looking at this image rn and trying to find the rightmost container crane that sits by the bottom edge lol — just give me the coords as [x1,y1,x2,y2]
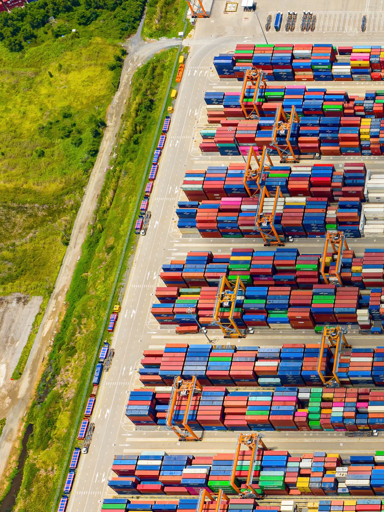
[230,433,274,502]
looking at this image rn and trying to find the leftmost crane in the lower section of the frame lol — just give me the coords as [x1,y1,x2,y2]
[161,376,202,442]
